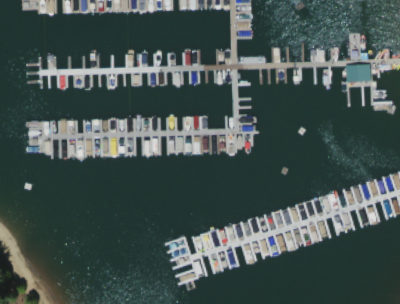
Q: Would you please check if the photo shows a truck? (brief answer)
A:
No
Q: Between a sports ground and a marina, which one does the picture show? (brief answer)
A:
marina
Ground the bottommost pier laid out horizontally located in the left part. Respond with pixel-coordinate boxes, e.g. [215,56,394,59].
[28,116,260,158]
